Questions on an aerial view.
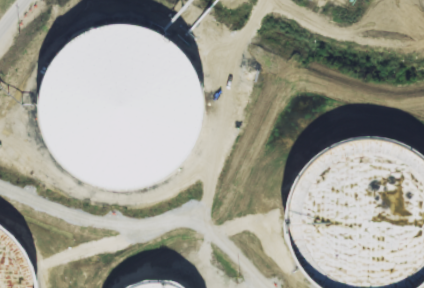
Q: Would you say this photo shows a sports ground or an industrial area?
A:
industrial area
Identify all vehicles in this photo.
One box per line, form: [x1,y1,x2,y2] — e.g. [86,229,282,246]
[213,89,222,98]
[226,75,232,88]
